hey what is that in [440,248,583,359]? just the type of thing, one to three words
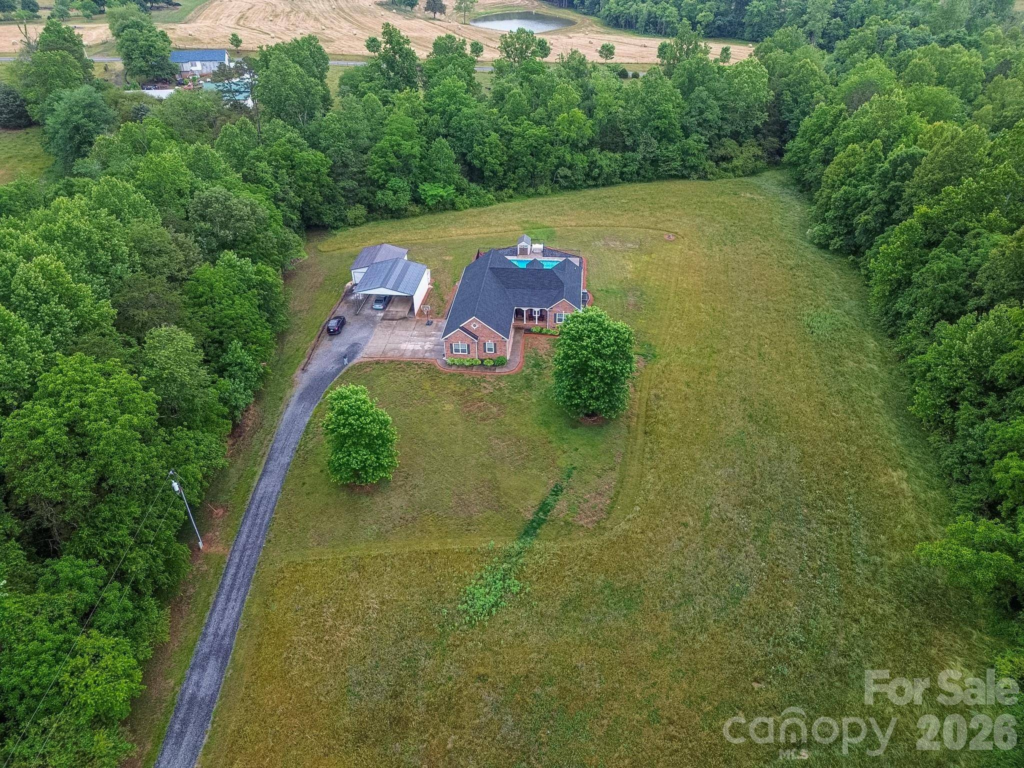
house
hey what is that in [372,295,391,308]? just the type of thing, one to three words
vehicle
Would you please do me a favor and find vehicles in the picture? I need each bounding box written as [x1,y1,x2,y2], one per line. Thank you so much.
[171,78,189,85]
[372,295,391,308]
[181,82,196,90]
[327,313,349,333]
